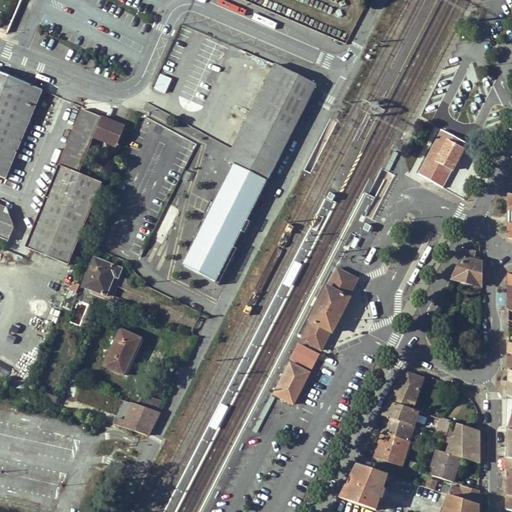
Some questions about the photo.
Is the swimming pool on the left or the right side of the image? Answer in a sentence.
You can find the swimming pool on the left side of the picture.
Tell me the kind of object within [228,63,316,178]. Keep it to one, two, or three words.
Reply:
building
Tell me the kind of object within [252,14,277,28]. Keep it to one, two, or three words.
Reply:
vehicle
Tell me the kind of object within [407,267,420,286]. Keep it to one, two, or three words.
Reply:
vehicle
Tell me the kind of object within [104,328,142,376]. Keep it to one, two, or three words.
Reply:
house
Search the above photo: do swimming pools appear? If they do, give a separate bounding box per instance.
[69,300,90,326]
